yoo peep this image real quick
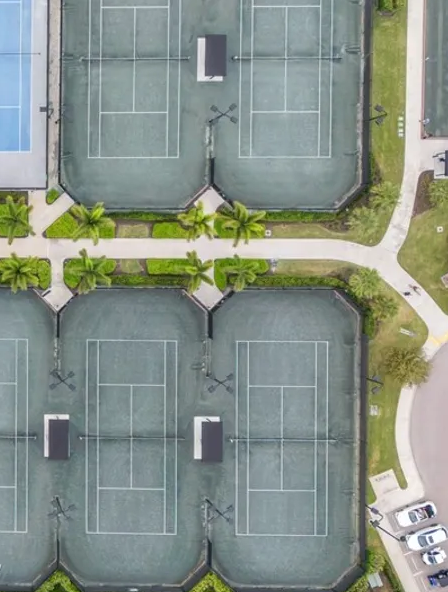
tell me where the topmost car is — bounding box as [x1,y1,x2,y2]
[392,498,439,525]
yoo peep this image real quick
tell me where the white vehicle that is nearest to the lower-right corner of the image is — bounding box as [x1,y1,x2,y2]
[420,546,448,566]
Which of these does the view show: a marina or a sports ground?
sports ground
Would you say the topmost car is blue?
No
